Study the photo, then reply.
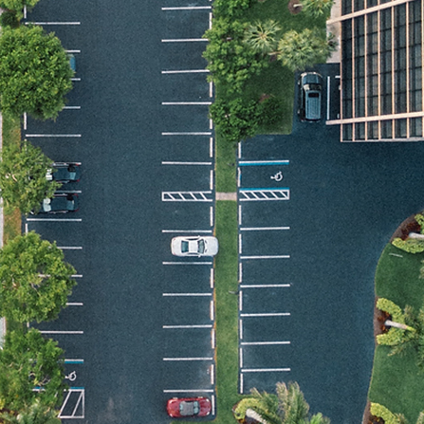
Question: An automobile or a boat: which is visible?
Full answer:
I can see an automobile in this picture.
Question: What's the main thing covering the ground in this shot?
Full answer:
The scene is dominated by paved ground.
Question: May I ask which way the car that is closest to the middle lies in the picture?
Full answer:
I'd say the car that is closest to the middle is aligned from side to side in the picture.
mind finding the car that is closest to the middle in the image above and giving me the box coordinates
[172,235,220,259]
